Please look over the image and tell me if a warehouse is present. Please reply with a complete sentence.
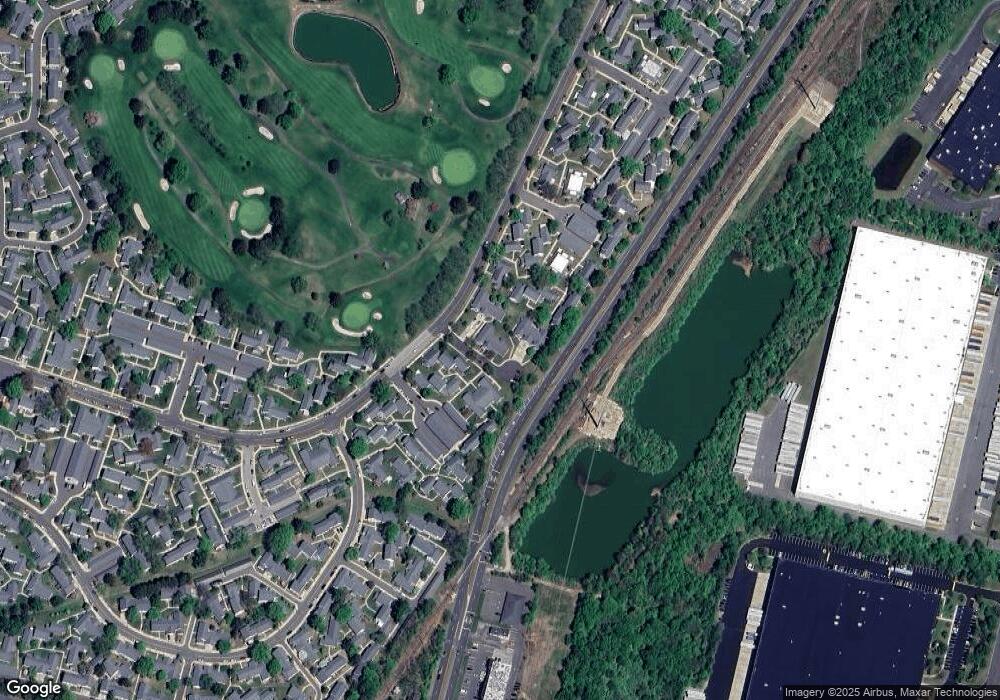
Yes, the image includes a warehouse.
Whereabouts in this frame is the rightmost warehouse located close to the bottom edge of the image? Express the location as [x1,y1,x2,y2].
[747,556,940,700]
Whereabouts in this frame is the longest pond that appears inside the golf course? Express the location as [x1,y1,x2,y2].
[294,12,398,110]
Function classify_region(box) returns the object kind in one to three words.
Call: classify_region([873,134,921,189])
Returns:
pond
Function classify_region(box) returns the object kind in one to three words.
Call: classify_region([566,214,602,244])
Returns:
building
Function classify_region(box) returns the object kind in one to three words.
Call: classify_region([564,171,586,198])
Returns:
house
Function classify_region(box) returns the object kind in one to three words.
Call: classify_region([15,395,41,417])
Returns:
house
